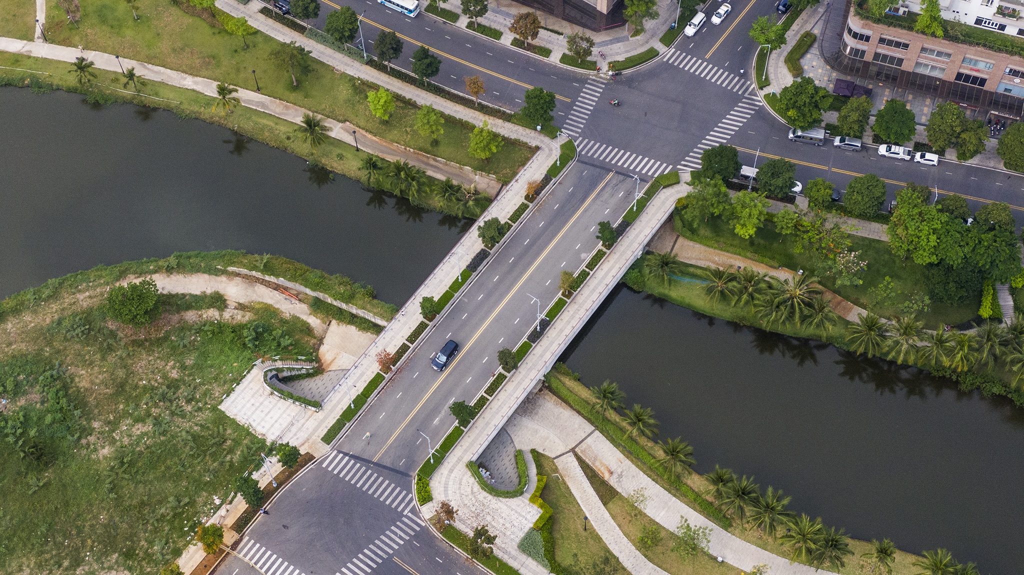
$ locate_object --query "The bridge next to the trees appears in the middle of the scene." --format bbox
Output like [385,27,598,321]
[320,145,677,478]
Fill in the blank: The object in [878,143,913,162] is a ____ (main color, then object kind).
white vehicle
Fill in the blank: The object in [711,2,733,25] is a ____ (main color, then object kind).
white car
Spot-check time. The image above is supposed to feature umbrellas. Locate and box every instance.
[853,84,873,102]
[832,78,855,98]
